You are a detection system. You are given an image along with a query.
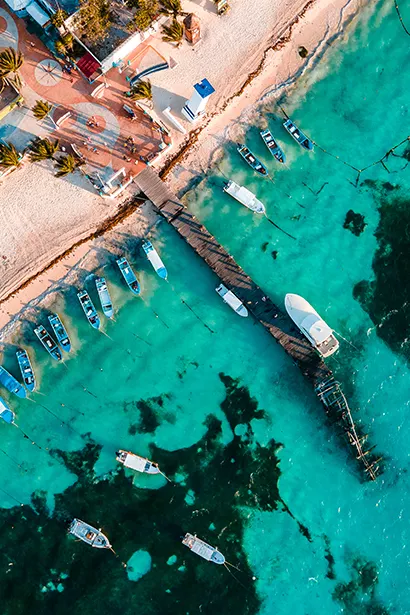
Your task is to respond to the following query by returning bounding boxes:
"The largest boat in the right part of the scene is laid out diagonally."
[287,293,342,359]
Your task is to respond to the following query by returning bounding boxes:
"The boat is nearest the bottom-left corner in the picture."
[68,521,110,550]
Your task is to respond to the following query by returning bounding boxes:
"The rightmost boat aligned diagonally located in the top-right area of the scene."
[283,116,315,150]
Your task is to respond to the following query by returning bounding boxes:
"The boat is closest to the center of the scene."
[214,283,247,316]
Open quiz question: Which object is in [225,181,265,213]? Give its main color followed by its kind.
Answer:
white boat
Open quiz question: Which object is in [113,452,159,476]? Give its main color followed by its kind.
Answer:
white boat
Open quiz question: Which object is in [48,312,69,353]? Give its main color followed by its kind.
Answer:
blue boat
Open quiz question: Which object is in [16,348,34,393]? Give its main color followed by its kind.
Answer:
blue boat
